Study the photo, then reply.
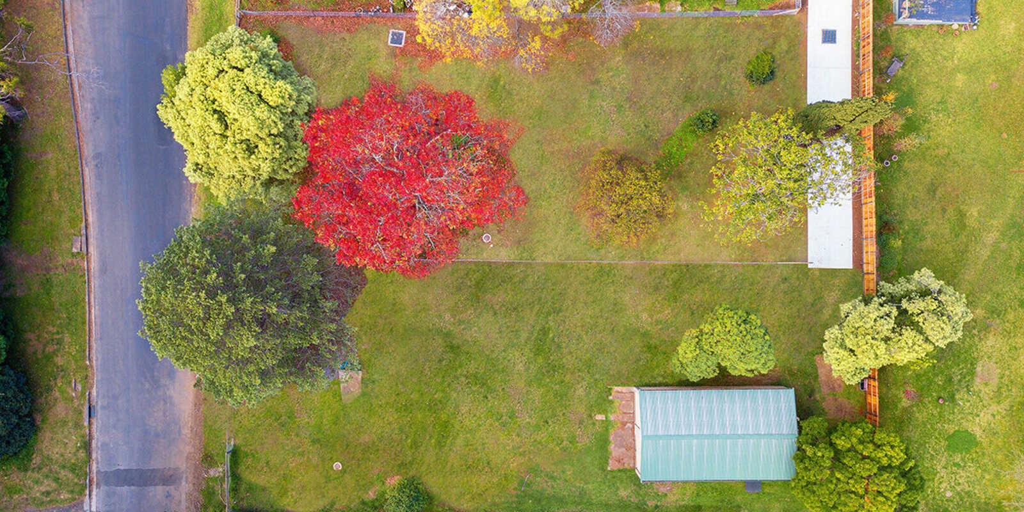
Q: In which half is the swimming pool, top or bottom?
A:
top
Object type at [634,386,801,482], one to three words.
shed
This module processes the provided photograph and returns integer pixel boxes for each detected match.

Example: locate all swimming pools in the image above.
[894,0,979,24]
